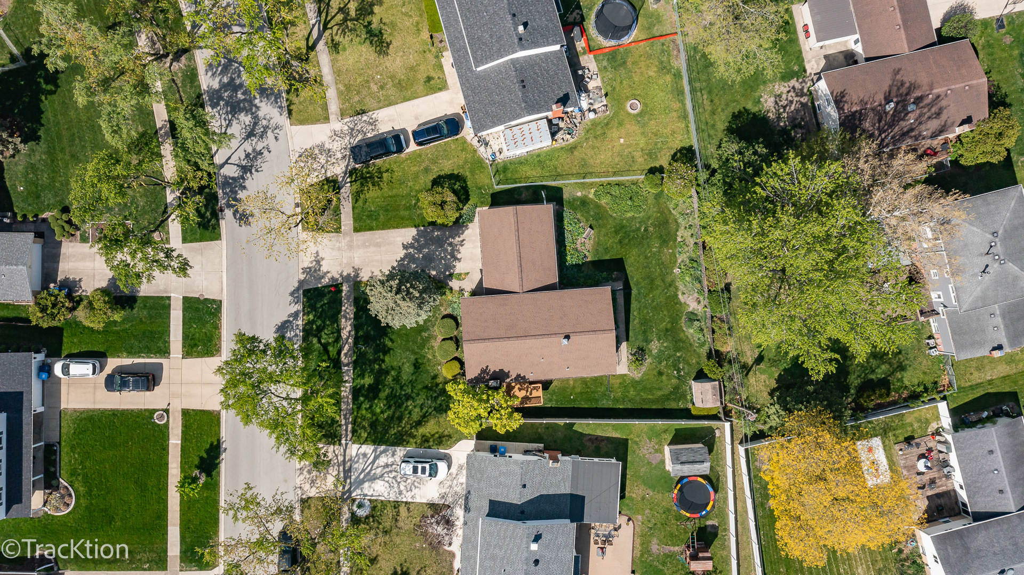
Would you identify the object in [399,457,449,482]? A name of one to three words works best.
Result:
car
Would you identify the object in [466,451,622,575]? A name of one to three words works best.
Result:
house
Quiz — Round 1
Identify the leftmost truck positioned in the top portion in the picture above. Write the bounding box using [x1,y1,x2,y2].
[347,132,407,163]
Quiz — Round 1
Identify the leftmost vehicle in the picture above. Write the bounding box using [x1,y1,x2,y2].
[54,357,101,381]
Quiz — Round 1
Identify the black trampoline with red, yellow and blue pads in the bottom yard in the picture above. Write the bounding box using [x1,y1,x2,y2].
[671,477,716,523]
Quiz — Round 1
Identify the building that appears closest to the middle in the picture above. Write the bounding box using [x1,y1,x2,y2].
[461,191,618,392]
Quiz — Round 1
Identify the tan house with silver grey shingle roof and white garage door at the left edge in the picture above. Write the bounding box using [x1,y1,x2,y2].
[0,215,47,302]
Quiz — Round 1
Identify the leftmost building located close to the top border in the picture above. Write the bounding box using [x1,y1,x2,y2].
[437,0,580,137]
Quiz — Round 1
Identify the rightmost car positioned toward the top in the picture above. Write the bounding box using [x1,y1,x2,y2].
[410,118,462,148]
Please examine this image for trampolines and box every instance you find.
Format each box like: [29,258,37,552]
[671,477,716,523]
[591,0,636,45]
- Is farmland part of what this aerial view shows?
No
